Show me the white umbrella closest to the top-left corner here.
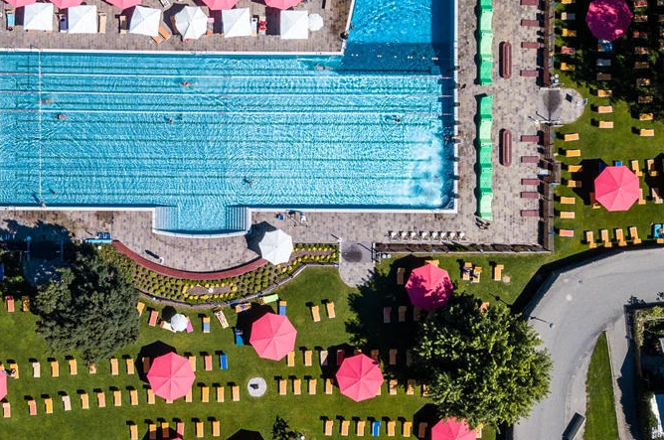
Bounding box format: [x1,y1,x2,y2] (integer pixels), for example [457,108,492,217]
[25,3,54,30]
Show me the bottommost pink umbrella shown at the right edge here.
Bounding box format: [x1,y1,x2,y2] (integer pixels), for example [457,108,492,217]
[592,166,637,211]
